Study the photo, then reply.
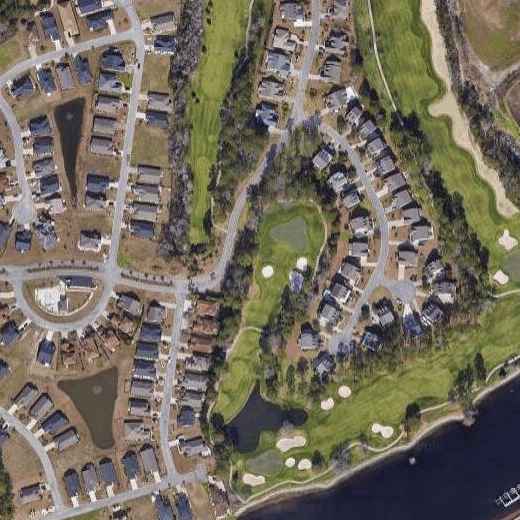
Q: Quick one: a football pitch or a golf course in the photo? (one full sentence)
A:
It is a golf course that can be seen here.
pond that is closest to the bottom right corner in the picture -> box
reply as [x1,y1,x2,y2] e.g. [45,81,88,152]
[226,380,307,453]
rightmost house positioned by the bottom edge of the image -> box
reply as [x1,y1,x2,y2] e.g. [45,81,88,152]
[211,485,232,519]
